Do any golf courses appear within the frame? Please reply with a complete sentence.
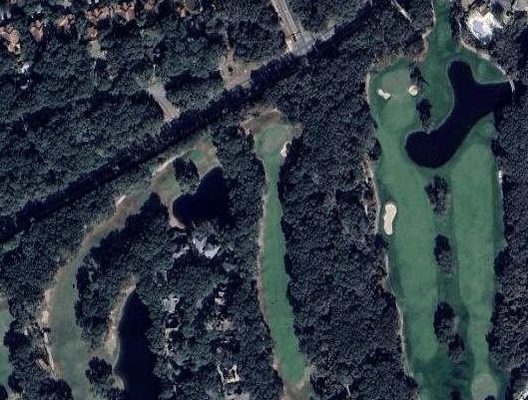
Yes, the picture does show a golf course.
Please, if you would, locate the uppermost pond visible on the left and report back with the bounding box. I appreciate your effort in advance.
[174,167,228,225]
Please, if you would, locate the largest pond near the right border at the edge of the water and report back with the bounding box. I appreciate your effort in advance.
[407,60,512,167]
